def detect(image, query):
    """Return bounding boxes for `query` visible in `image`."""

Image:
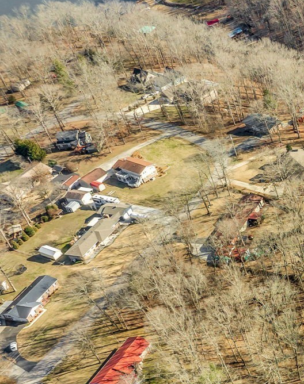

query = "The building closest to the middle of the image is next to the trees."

[112,156,157,190]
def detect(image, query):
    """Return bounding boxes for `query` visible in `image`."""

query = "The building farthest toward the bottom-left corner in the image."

[0,276,59,325]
